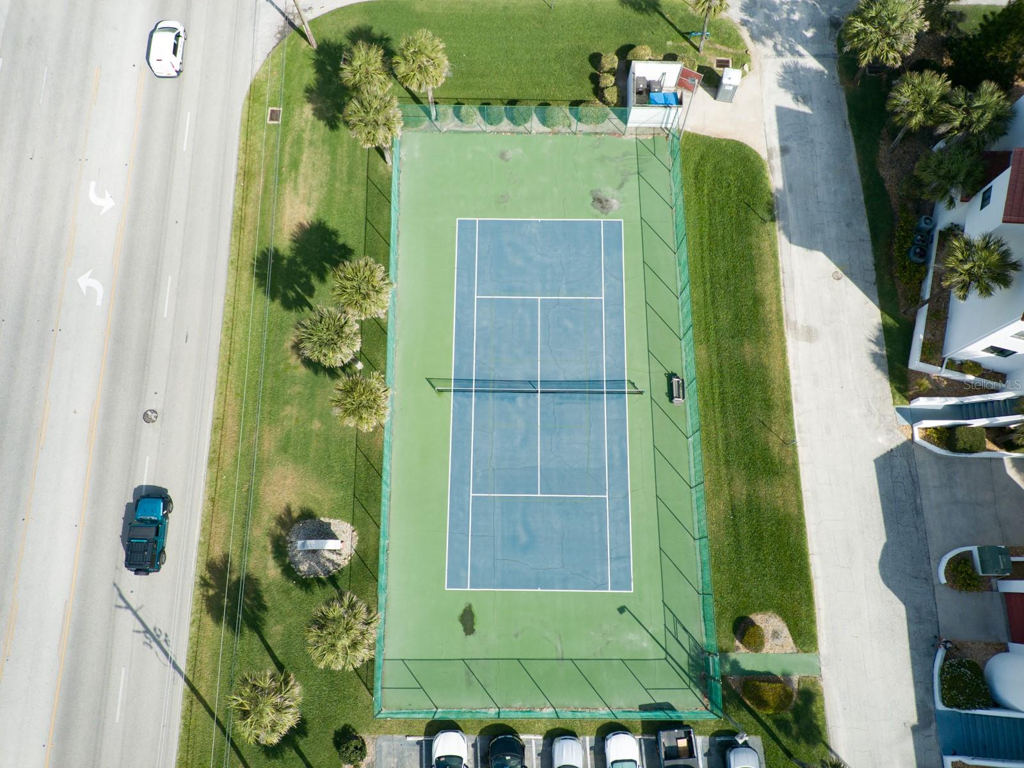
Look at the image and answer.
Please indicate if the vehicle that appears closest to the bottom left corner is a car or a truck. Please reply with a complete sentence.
The vehicle that appears closest to the bottom left corner in the image is a car.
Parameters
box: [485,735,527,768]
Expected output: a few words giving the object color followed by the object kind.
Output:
black car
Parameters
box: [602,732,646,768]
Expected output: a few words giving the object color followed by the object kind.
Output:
white car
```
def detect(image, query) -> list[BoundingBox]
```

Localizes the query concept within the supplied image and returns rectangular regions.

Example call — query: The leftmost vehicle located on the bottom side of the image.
[119,497,170,576]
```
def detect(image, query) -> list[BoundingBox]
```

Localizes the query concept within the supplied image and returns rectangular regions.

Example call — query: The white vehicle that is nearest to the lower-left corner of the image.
[427,731,470,768]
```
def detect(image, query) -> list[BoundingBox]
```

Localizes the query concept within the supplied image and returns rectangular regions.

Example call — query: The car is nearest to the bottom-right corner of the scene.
[724,742,762,768]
